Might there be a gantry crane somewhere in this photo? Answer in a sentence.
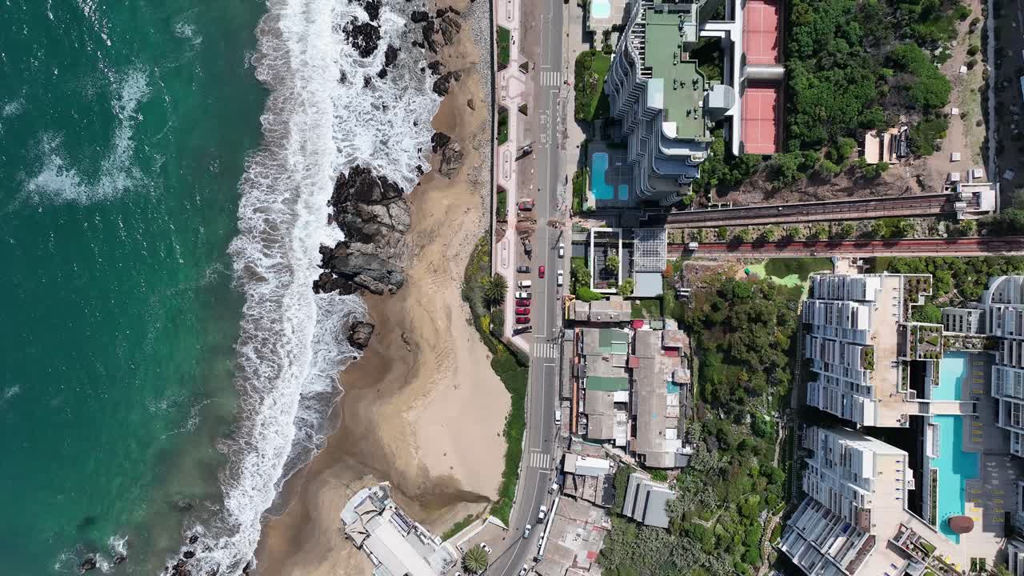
No, there isn't any gantry crane down there.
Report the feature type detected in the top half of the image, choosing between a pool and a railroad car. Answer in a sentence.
Looking in the top half of the image, you will find a pool.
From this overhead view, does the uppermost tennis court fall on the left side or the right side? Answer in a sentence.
The uppermost tennis court appears in the right half of the scene.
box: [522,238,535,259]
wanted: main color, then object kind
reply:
gray vehicle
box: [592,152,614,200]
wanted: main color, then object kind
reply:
blue swimming pool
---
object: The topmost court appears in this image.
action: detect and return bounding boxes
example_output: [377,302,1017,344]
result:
[740,0,774,81]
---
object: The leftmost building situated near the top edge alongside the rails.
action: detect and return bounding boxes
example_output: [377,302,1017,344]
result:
[601,0,713,207]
